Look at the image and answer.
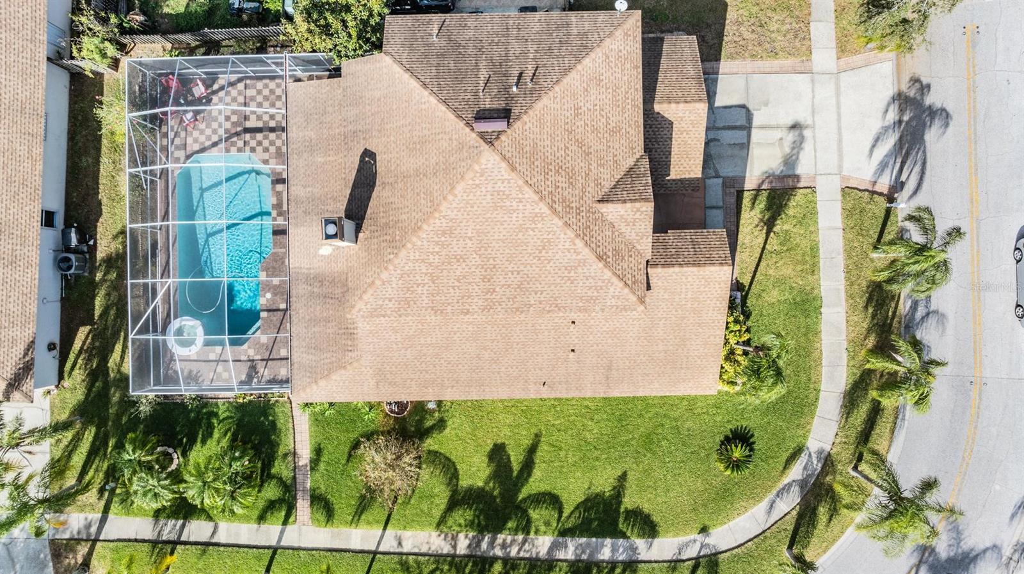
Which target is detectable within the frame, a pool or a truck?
pool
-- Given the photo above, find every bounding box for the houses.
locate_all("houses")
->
[286,0,732,404]
[0,0,71,403]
